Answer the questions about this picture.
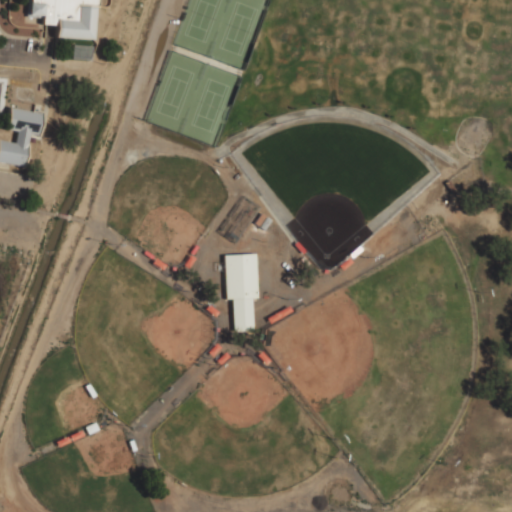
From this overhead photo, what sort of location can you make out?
sports ground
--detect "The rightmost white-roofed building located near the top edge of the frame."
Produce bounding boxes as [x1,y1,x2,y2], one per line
[32,0,98,40]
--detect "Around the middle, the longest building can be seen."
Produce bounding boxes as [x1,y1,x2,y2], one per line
[223,254,259,331]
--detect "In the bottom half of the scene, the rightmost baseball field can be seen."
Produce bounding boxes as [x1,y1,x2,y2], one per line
[264,231,474,502]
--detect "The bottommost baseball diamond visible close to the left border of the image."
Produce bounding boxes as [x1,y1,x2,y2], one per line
[20,424,153,512]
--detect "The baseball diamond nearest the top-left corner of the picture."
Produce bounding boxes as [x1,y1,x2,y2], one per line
[107,156,228,271]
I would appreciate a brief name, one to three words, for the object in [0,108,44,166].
building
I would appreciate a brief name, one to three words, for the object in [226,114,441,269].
baseball field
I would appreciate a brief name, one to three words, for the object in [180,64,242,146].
tennis court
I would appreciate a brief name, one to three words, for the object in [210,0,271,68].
tennis court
